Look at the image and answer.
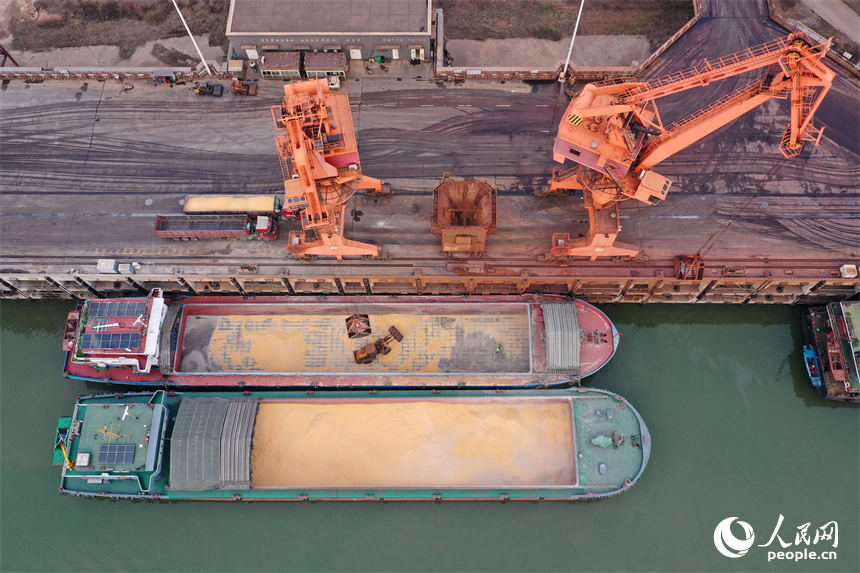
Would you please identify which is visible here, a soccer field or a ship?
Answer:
ship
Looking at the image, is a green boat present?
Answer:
Yes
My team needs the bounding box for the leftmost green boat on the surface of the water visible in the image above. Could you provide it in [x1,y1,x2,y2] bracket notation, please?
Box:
[45,416,76,467]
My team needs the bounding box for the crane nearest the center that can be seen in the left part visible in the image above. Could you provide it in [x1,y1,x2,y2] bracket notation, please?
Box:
[264,77,391,261]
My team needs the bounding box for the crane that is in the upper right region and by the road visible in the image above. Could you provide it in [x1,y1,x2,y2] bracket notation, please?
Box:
[538,23,842,263]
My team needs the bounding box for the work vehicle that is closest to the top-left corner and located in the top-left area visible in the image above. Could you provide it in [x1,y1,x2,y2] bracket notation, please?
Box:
[193,83,229,100]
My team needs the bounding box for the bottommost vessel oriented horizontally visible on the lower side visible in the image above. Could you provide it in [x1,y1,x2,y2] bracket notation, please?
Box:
[51,387,653,501]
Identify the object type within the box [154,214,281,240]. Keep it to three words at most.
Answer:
truck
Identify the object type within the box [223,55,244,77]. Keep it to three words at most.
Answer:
shed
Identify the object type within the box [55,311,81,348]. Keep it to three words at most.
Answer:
boat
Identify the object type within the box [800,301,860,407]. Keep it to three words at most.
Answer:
ship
